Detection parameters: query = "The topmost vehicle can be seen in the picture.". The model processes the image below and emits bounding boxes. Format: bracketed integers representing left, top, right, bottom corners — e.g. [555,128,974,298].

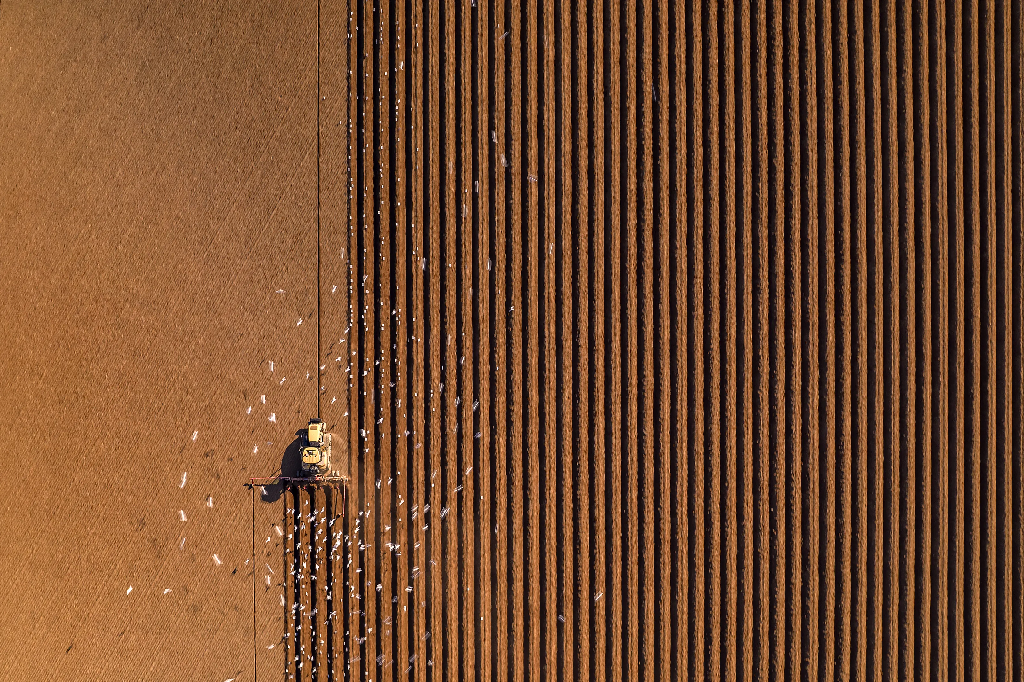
[300,418,333,477]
